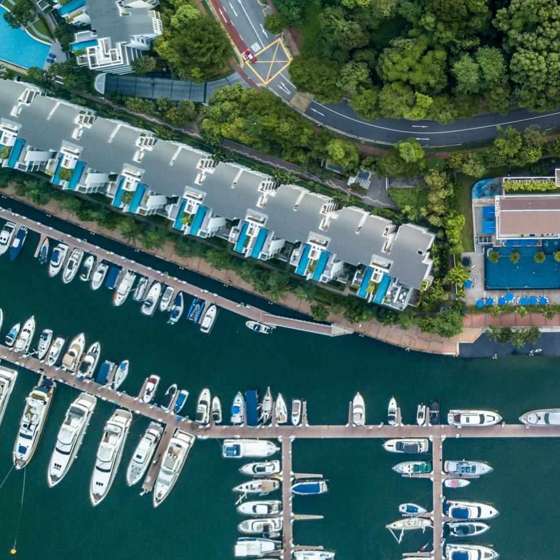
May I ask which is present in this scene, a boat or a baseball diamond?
boat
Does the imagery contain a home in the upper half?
Yes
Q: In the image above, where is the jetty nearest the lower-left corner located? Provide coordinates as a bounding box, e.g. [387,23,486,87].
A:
[0,345,203,492]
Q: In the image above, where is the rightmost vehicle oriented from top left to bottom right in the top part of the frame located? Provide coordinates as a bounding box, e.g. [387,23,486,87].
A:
[238,48,256,61]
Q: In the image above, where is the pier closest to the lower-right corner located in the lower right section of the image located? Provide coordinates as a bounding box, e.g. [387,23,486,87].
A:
[402,438,499,560]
